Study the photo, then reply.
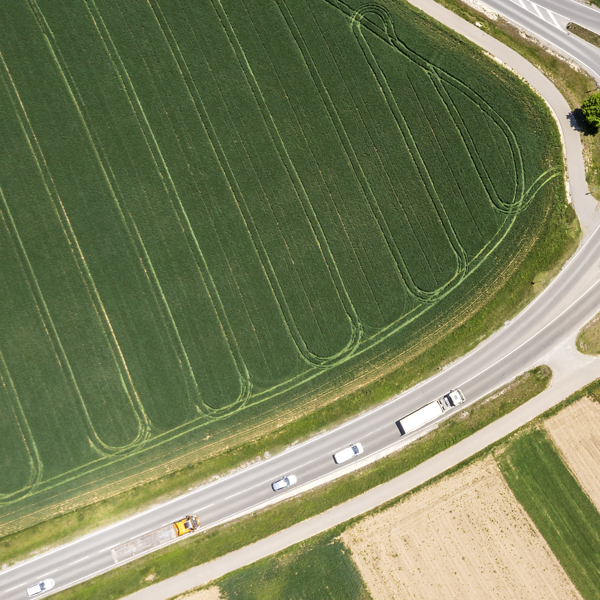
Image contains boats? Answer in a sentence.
No, there isn't any boat down there.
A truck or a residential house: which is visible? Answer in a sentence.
There is a truck in the scene.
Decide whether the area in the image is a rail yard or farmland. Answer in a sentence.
This image shows farmland.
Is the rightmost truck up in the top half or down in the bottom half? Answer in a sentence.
The bottom half of the photo is where the rightmost truck is.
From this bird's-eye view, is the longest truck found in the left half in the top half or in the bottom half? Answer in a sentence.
The longest truck found in the left half sits in the bottom half of the picture.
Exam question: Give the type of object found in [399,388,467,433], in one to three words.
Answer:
truck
